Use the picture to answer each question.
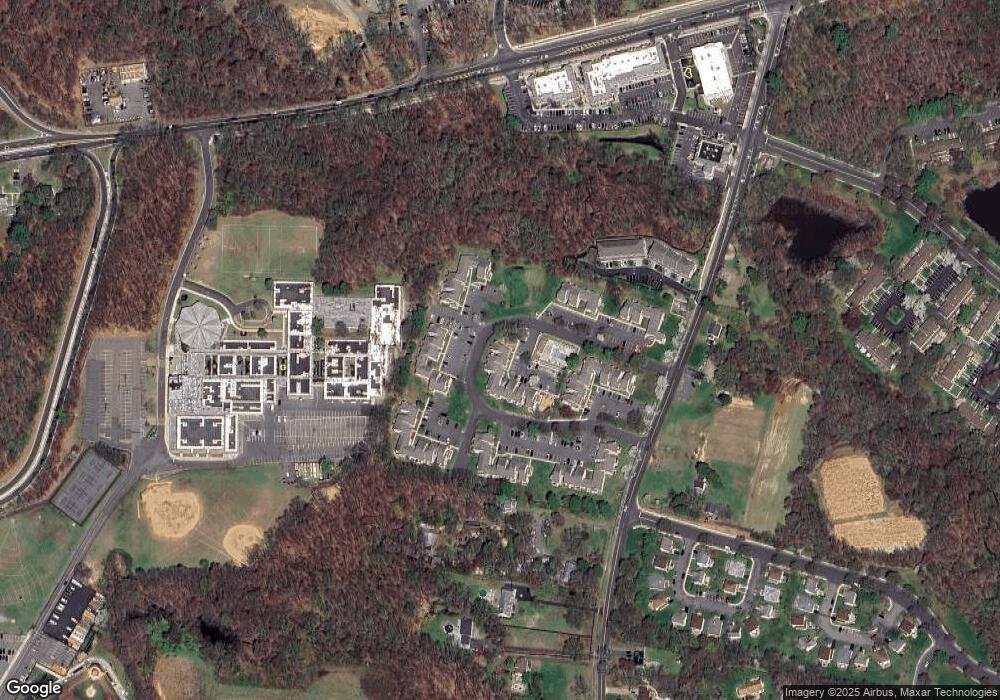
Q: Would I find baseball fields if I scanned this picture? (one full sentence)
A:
Yes, a baseball field can be made out from above.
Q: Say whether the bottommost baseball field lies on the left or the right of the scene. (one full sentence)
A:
The bottommost baseball field sits on the left side.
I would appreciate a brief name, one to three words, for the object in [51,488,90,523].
tennis court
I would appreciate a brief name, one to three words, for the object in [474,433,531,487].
building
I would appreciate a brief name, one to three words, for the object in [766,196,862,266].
pond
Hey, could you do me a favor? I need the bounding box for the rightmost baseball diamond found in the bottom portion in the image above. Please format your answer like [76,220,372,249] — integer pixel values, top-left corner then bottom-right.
[224,525,271,565]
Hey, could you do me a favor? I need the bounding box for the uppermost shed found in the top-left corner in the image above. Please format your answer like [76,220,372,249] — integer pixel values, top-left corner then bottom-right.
[120,62,146,83]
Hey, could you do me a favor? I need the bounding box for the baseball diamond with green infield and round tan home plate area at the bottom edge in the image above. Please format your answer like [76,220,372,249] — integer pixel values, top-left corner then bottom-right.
[61,659,127,700]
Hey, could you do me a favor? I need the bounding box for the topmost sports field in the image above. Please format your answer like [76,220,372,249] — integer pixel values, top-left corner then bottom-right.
[203,210,320,286]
